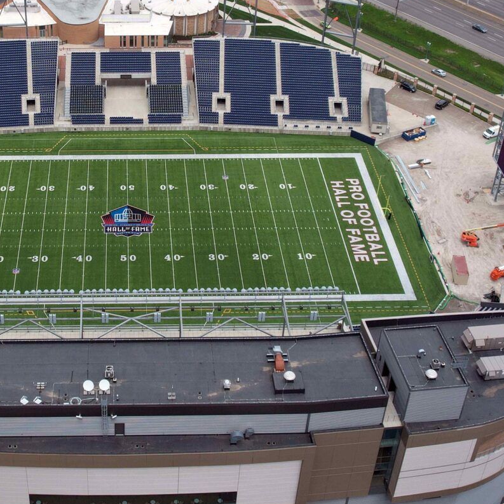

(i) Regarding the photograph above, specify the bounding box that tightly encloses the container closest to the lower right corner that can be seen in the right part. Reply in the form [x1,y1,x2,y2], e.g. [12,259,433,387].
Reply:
[450,257,475,287]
